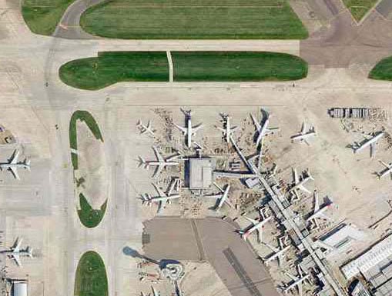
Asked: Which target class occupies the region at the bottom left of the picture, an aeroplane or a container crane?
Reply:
aeroplane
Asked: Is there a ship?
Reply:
No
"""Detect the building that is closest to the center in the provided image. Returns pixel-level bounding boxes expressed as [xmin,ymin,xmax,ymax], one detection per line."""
[189,158,213,190]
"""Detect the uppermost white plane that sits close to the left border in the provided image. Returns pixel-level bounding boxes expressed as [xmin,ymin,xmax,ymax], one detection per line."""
[0,150,31,181]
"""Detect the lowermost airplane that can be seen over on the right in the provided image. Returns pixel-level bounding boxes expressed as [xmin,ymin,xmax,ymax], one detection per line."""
[279,273,310,296]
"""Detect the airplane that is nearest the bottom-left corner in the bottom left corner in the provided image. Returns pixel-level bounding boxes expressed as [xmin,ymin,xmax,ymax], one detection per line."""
[0,238,33,268]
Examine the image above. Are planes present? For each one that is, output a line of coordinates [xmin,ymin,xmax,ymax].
[351,131,386,156]
[261,242,291,271]
[138,149,179,178]
[240,216,272,241]
[307,196,335,223]
[376,162,392,181]
[291,123,316,146]
[216,113,240,142]
[174,110,204,147]
[291,173,315,194]
[250,111,281,146]
[0,150,31,181]
[139,183,180,213]
[209,184,234,213]
[279,273,310,296]
[0,238,33,268]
